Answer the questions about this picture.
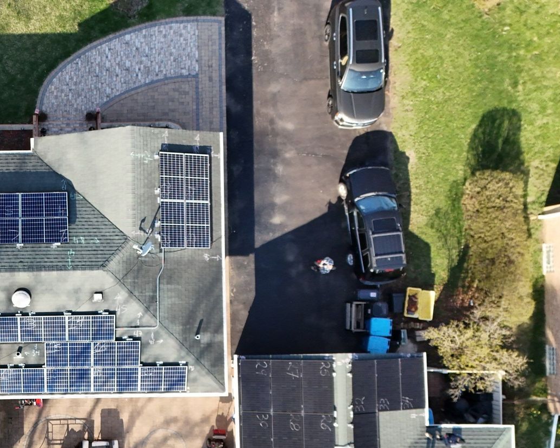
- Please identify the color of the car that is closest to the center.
black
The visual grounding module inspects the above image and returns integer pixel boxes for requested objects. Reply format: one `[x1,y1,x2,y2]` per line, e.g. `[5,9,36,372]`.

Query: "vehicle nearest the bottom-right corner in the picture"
[337,169,410,289]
